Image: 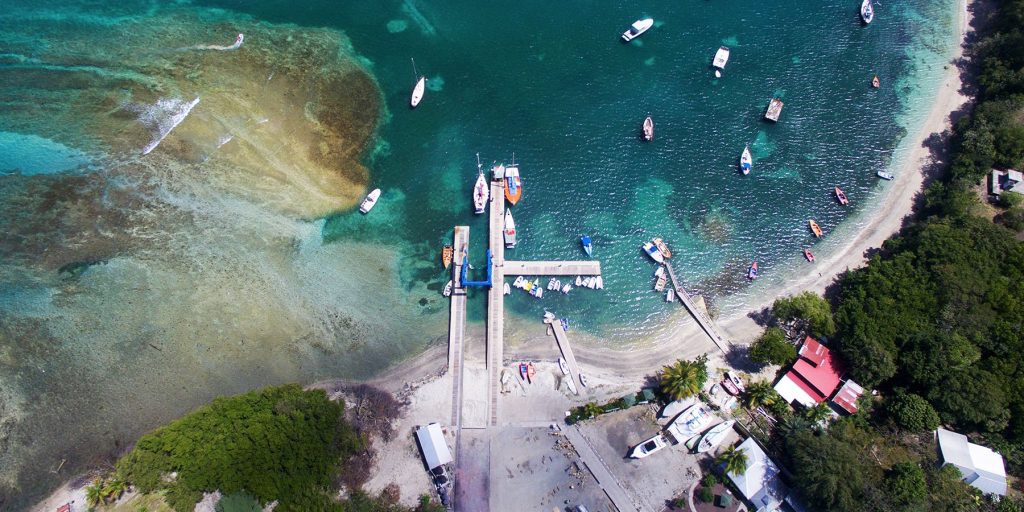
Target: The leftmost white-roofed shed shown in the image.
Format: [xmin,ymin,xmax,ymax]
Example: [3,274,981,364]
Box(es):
[417,423,453,471]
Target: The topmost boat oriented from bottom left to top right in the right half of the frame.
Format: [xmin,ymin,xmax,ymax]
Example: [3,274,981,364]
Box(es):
[620,19,653,43]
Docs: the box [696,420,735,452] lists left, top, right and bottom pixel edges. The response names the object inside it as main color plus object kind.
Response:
white boat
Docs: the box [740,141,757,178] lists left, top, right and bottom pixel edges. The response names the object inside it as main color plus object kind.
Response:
white boat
